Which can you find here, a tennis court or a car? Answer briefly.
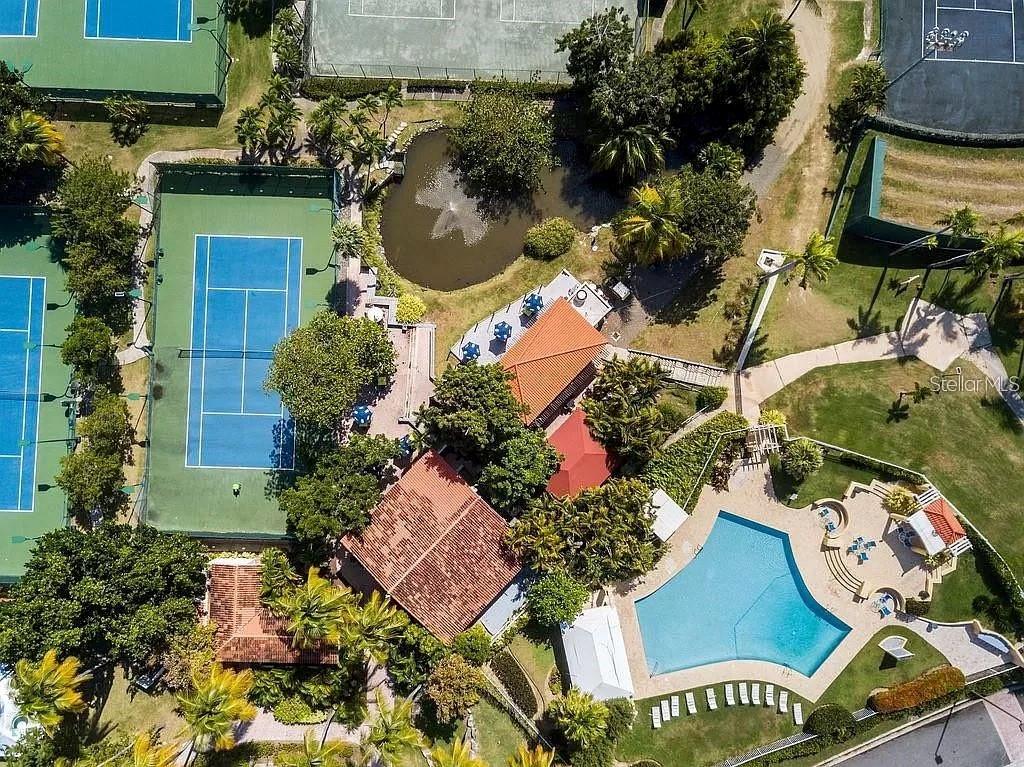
tennis court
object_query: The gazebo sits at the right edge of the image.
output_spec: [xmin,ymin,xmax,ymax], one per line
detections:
[898,487,974,558]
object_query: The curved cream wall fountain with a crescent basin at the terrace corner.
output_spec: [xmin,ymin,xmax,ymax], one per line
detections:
[962,615,1024,668]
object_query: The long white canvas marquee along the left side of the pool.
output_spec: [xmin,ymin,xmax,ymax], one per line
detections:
[562,601,634,702]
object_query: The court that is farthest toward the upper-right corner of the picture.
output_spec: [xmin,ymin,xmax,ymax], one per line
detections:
[882,0,1024,137]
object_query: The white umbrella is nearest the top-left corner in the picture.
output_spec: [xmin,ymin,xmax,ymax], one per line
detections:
[368,306,385,322]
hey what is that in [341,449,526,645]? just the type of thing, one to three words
house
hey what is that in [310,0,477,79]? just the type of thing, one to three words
tennis court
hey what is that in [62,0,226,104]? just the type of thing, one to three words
tennis court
